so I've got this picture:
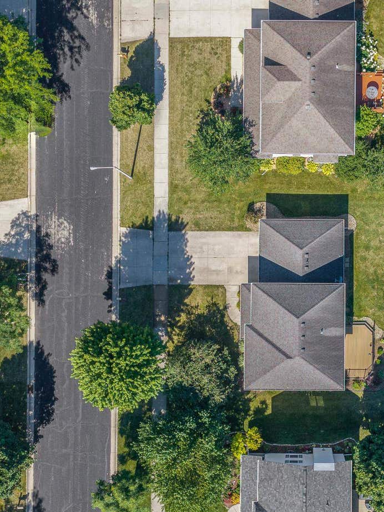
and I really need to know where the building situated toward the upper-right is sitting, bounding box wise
[242,0,356,175]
